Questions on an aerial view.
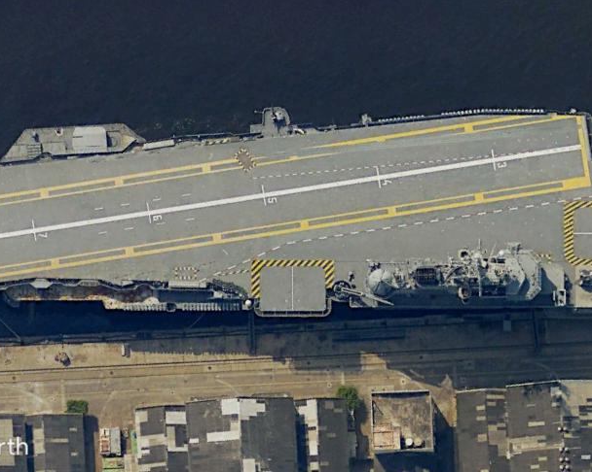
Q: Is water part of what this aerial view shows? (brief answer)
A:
Yes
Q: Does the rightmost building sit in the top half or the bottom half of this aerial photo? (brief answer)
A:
bottom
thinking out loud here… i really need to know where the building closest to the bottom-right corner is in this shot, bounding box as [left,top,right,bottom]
[507,380,592,472]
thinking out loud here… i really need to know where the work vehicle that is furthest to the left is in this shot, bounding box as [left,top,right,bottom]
[54,352,69,365]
